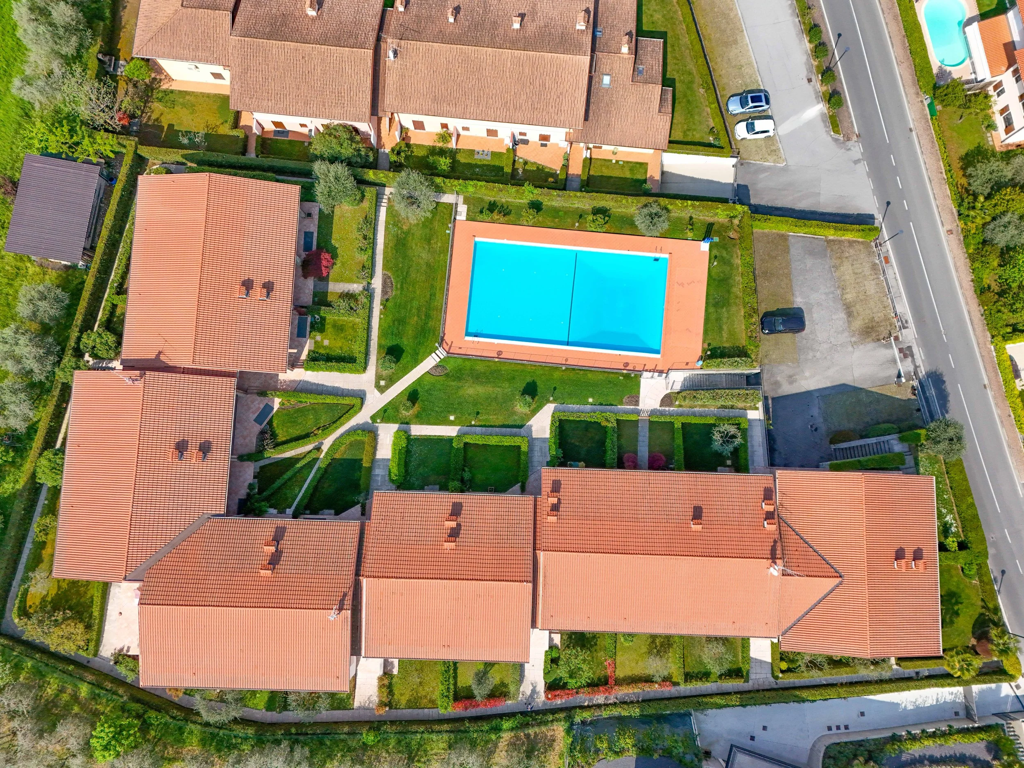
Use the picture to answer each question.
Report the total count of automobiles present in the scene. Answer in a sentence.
The photo contains 3 automobiles.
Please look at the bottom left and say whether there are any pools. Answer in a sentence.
No, no pool appears at the bottom left.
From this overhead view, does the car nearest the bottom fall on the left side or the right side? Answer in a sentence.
It is on the right.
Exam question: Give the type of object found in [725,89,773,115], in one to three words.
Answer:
car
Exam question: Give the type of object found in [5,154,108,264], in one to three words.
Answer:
shed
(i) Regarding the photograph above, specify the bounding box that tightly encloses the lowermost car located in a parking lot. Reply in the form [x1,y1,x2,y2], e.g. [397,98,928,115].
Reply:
[762,313,807,335]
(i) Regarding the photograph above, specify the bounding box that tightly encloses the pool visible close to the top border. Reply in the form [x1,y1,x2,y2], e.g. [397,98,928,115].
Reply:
[923,0,966,67]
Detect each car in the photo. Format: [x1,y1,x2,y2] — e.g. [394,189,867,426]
[733,119,777,142]
[725,89,773,115]
[762,313,807,335]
